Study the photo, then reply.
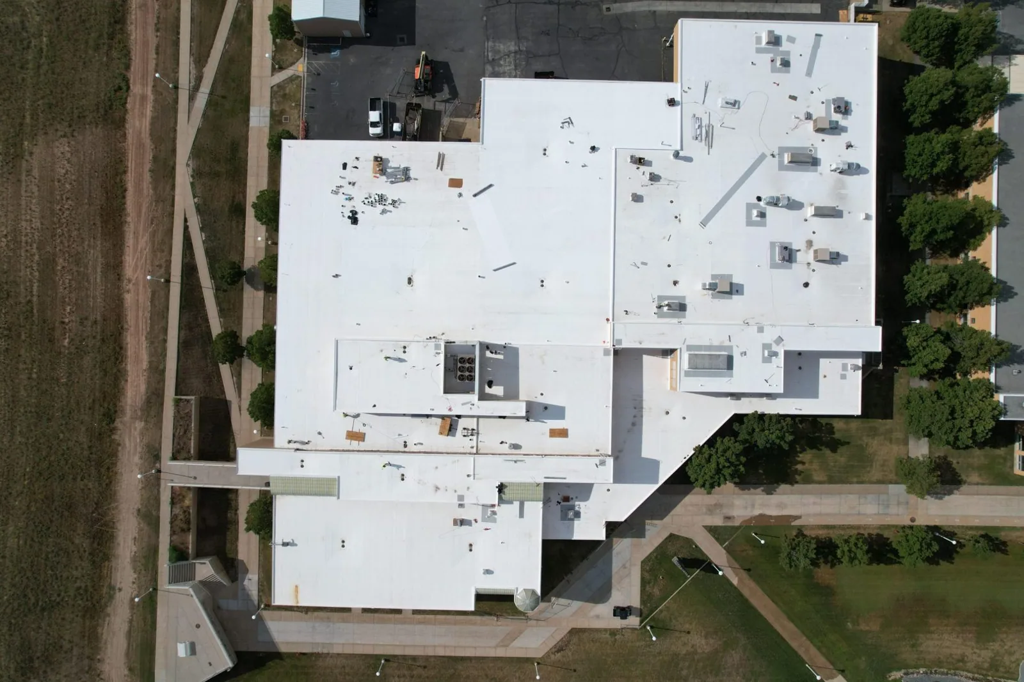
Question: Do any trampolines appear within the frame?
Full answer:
No, the frame has no trampoline in it.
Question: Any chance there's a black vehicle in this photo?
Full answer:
Yes, I can see a black vehicle in this picture.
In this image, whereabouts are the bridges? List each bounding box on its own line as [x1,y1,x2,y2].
[171,464,278,487]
